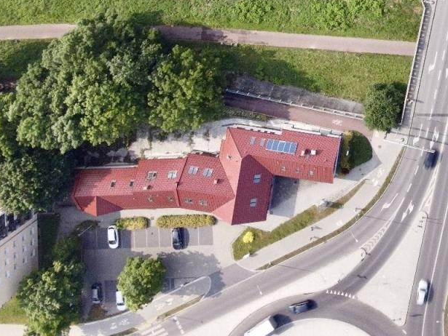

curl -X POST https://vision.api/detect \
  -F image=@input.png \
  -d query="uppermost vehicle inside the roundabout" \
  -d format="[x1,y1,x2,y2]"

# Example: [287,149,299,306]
[287,299,313,314]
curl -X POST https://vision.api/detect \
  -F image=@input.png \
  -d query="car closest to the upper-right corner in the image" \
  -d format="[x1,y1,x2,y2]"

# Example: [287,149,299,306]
[424,149,437,171]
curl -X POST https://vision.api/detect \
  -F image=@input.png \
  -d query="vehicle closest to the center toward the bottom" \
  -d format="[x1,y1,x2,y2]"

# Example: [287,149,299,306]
[173,226,185,250]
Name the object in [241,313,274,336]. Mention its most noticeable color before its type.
white vehicle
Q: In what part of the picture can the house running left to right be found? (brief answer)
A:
center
